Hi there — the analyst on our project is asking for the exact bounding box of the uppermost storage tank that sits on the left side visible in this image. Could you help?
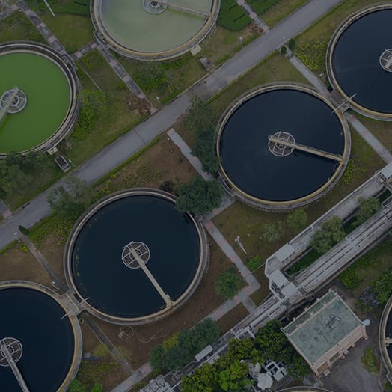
[91,0,221,62]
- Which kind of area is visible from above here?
industrial area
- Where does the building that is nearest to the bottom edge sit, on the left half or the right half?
right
